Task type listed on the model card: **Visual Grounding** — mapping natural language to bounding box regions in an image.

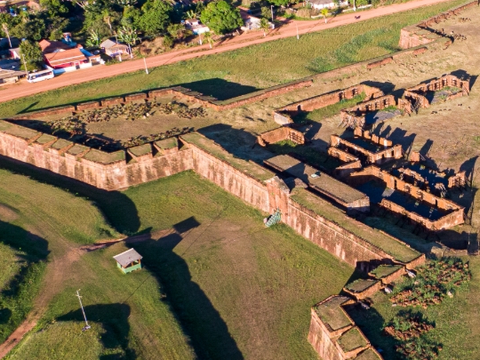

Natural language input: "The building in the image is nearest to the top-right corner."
[404,75,476,118]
